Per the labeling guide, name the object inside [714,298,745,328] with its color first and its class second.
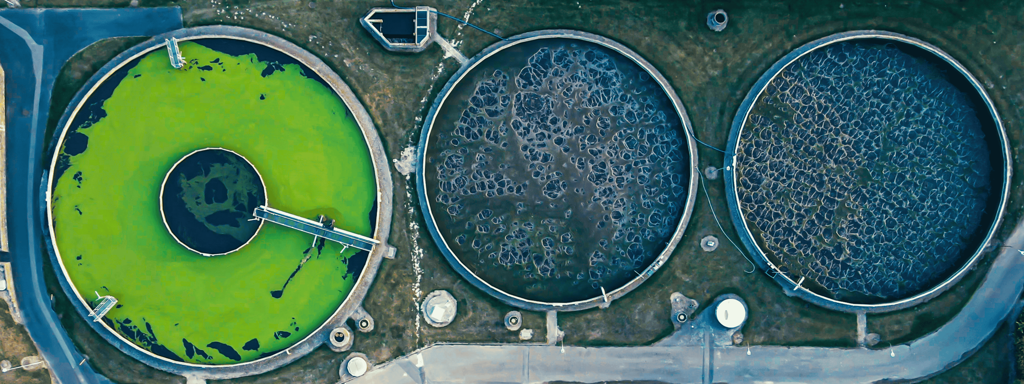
white storage tank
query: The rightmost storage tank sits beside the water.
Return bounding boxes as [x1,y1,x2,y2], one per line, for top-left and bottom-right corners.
[731,35,1011,306]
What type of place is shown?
industrial area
